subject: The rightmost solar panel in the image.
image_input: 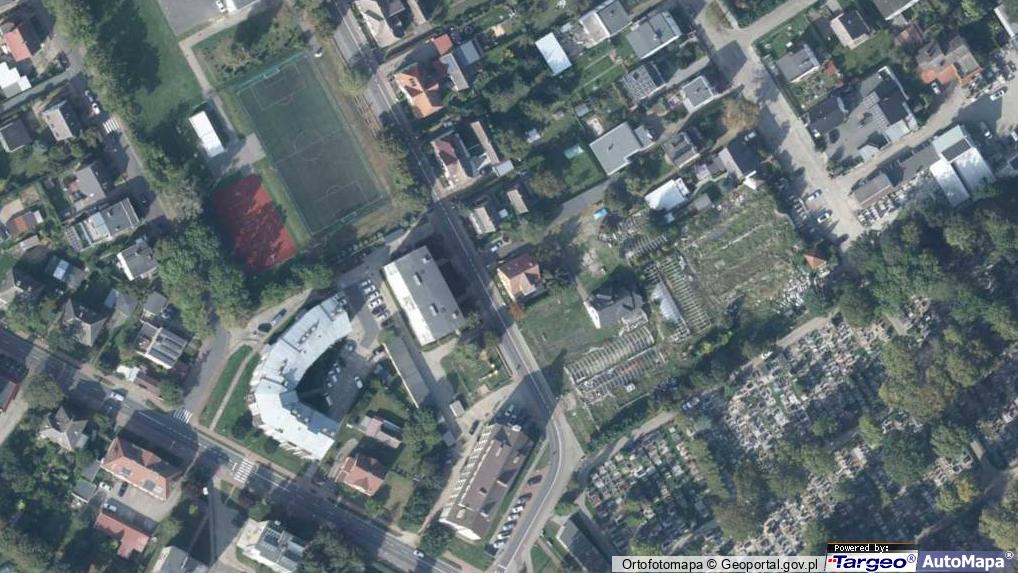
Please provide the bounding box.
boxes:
[864,96,889,125]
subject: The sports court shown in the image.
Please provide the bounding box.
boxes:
[214,174,297,272]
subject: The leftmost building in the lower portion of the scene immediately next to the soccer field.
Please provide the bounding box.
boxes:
[244,293,352,469]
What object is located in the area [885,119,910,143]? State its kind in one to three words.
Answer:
building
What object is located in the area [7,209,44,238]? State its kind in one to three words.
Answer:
shed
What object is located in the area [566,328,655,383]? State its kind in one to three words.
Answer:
greenhouse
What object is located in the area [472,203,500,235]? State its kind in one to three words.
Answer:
house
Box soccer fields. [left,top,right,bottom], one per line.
[238,56,389,233]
